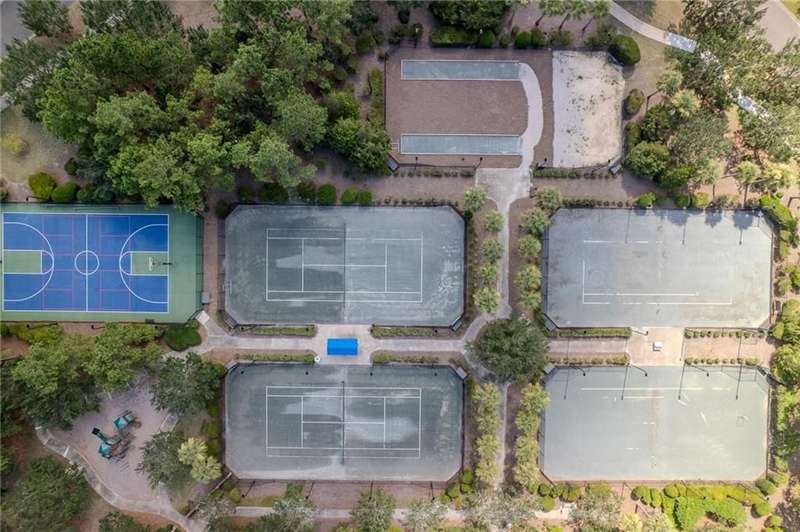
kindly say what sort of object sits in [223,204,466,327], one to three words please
tennis court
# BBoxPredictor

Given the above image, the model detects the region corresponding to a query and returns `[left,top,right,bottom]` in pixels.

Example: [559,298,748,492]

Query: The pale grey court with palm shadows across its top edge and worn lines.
[544,207,773,328]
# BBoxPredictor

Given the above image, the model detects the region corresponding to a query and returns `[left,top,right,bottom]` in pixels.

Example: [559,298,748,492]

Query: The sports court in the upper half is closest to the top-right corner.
[553,50,623,167]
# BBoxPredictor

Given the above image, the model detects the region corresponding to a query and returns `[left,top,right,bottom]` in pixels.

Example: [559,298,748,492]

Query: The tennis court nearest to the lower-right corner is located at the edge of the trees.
[540,365,771,482]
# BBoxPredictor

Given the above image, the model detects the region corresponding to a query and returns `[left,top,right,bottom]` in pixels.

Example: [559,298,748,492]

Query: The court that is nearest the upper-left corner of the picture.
[0,203,203,323]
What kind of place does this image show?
sports ground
